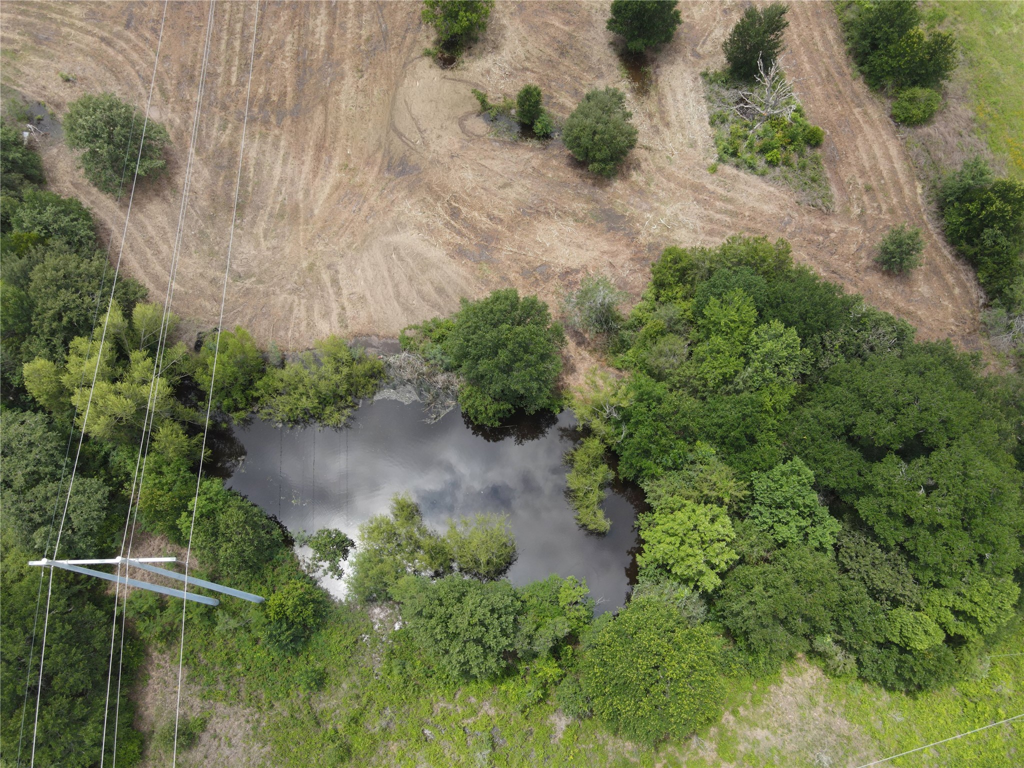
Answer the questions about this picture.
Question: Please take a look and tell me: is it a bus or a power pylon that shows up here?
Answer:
power pylon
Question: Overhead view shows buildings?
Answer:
No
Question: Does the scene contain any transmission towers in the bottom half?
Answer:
Yes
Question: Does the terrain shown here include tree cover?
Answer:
Yes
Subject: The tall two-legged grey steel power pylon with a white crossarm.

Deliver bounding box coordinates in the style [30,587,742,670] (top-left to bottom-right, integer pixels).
[27,556,265,607]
